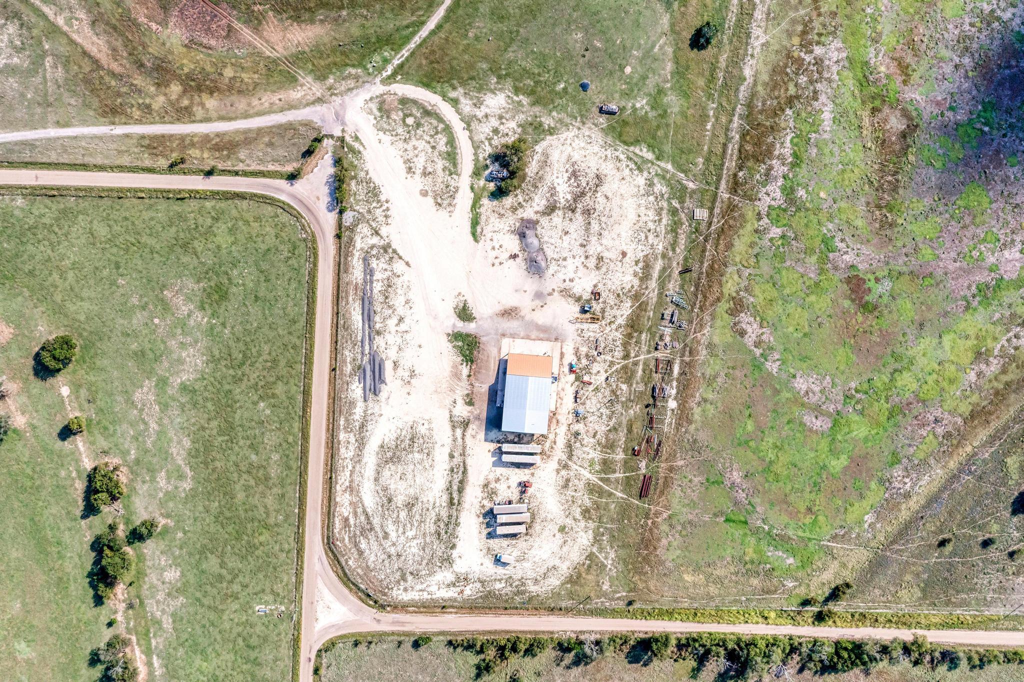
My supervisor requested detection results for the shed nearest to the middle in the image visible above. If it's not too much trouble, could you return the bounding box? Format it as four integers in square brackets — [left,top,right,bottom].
[501,353,552,434]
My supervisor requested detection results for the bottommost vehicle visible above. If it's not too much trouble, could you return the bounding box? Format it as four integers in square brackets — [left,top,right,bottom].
[497,554,516,566]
